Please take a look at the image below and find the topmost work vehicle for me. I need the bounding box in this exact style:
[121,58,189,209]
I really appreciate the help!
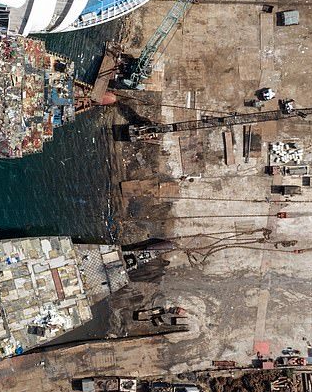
[255,81,289,102]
